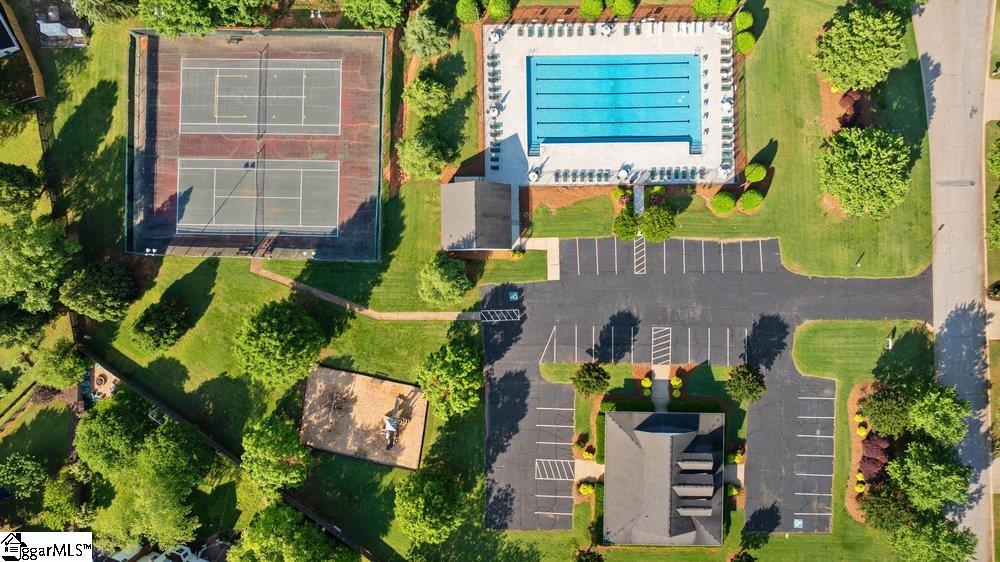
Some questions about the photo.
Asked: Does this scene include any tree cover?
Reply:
Yes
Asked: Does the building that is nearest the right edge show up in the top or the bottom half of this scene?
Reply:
bottom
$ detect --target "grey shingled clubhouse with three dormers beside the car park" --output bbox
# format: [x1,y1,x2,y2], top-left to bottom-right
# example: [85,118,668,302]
[603,411,725,546]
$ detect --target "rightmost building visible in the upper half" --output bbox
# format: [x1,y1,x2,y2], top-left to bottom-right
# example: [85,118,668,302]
[441,181,512,250]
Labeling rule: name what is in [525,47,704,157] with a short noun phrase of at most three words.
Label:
swimming pool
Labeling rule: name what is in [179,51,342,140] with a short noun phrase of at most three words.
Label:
tennis court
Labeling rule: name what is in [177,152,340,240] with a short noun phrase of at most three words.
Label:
tennis court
